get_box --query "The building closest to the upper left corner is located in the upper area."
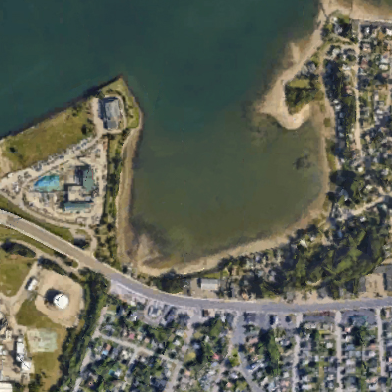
[104,98,120,130]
